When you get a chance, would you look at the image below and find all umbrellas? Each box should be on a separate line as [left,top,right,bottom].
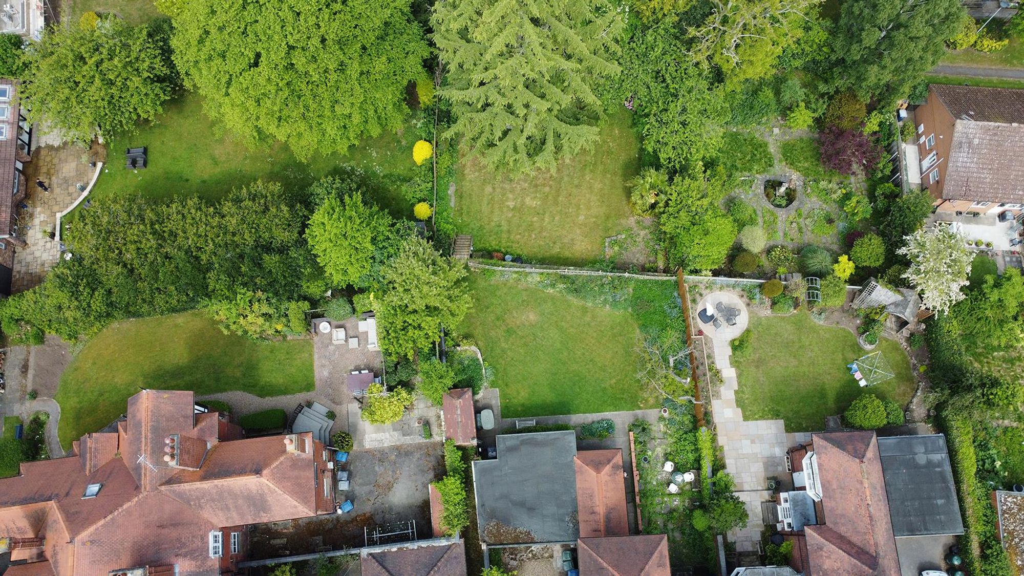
[699,304,723,324]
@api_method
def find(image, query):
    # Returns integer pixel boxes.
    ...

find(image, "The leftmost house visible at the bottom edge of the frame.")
[0,390,333,576]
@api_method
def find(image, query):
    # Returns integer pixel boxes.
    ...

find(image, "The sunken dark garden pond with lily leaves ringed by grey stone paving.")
[755,170,806,217]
